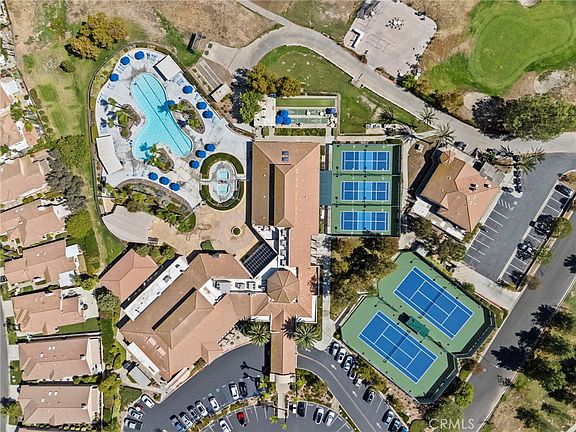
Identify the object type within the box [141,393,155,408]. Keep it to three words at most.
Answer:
car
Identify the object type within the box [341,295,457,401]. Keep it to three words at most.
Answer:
tennis court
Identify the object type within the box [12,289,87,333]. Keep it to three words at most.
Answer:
house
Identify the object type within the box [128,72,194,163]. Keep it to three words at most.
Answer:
swimming pool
